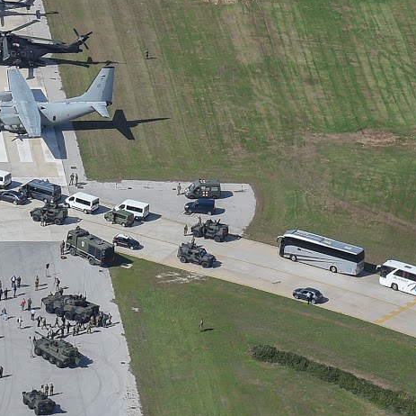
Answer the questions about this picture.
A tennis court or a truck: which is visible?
truck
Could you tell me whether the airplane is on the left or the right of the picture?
left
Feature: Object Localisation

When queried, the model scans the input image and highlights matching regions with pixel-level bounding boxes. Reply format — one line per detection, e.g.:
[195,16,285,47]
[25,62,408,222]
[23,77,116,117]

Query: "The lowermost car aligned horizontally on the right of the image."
[293,287,325,303]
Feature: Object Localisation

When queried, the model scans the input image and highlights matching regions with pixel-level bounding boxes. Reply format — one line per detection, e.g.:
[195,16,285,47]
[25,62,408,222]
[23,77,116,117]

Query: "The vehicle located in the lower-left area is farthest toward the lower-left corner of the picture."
[24,386,58,413]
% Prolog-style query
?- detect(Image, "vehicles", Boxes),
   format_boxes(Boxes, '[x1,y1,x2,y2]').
[0,169,12,189]
[16,175,62,202]
[104,209,136,226]
[0,190,27,204]
[192,214,228,241]
[375,256,416,294]
[184,198,219,215]
[273,227,360,273]
[293,287,325,303]
[183,176,222,198]
[179,243,217,267]
[34,327,85,366]
[115,197,150,219]
[66,228,113,264]
[111,233,143,249]
[45,289,102,321]
[24,386,58,413]
[64,191,100,213]
[31,200,68,224]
